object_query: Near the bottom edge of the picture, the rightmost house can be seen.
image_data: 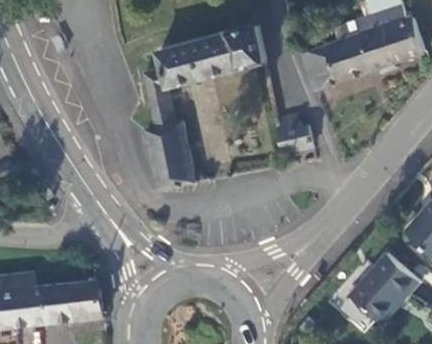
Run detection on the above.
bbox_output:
[329,252,420,332]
